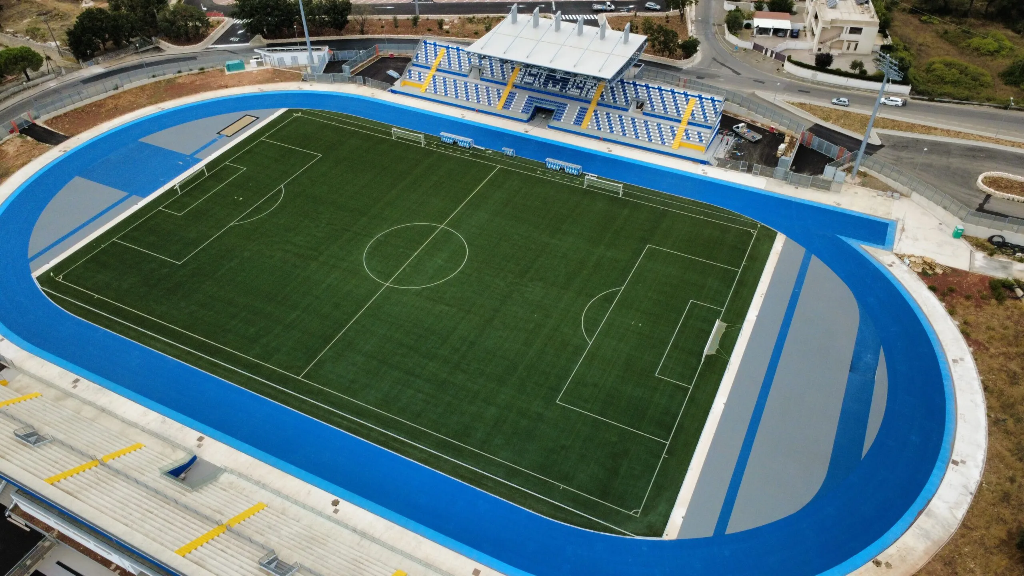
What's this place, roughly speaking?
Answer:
sports ground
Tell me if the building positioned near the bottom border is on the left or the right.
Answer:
left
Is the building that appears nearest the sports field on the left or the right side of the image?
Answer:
left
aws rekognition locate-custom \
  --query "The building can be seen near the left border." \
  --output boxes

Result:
[6,493,156,576]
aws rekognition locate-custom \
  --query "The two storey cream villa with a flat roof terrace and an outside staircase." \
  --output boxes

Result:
[790,0,882,56]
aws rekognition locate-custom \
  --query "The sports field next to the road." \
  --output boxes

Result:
[35,109,776,538]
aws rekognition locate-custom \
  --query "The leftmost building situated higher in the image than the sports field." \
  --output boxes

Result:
[253,42,326,67]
